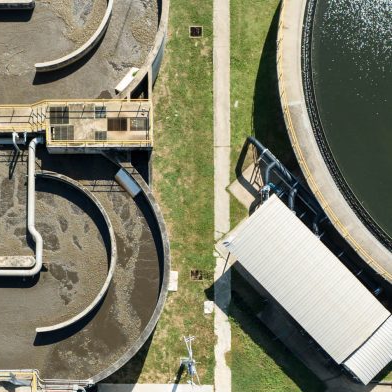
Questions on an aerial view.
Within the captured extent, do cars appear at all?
No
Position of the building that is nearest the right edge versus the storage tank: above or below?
below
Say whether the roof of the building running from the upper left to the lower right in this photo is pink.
No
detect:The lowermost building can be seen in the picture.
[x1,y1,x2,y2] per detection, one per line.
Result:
[341,314,392,385]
